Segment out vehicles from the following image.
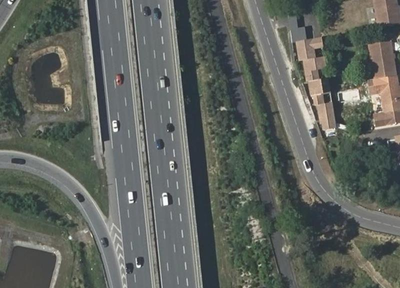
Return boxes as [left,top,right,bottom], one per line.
[156,138,162,150]
[162,192,168,206]
[158,76,166,89]
[112,120,118,132]
[128,191,134,204]
[116,74,122,85]
[126,262,132,274]
[143,6,149,16]
[366,138,378,145]
[166,122,172,133]
[336,124,348,130]
[169,160,175,172]
[310,127,316,138]
[101,236,108,248]
[304,159,312,172]
[136,256,142,268]
[154,8,160,20]
[12,158,24,164]
[75,192,84,203]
